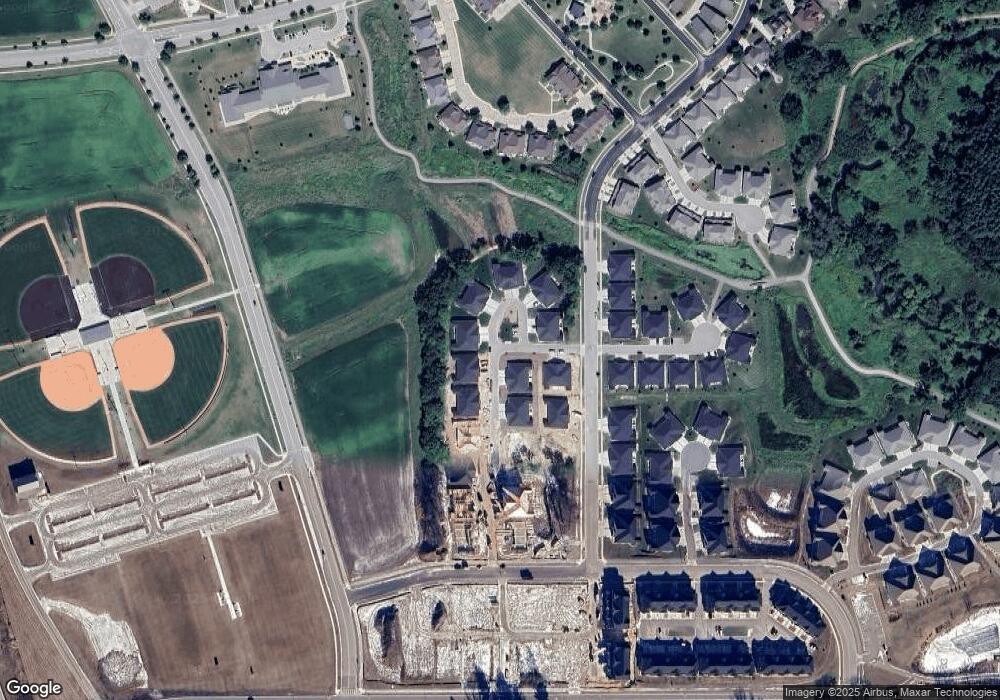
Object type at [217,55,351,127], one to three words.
building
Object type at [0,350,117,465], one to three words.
baseball field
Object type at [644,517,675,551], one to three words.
house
